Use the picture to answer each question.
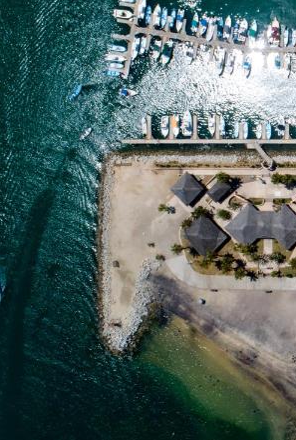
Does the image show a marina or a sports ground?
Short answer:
marina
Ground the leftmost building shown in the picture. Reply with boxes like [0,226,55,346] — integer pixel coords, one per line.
[170,172,205,206]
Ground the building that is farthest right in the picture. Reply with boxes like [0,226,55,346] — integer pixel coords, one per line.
[225,203,296,249]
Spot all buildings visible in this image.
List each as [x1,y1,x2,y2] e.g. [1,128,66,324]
[170,172,205,206]
[184,216,230,256]
[207,181,233,202]
[225,203,296,249]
